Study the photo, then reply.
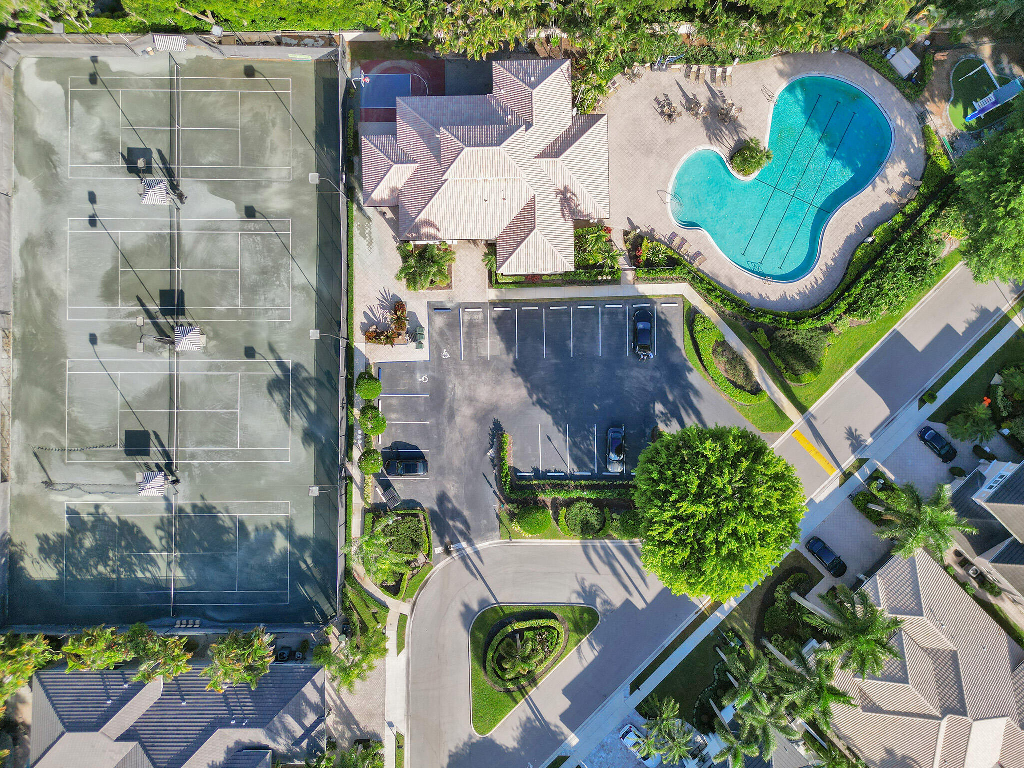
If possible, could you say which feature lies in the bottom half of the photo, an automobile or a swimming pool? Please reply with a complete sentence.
The one visible in the bottom half of the photo is an automobile.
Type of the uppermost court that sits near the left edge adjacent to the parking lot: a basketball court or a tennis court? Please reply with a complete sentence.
I'd identify the uppermost court that sits near the left edge adjacent to the parking lot as a tennis court.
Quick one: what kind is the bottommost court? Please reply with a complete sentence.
What you see as the bottommost court is a tennis court.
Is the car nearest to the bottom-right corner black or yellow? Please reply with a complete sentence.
The car nearest to the bottom-right corner looks black in the image.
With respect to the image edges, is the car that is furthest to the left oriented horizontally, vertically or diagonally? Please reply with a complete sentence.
The car that is furthest to the left runs horizontally in the image.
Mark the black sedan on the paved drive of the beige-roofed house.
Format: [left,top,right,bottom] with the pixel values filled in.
[803,535,846,575]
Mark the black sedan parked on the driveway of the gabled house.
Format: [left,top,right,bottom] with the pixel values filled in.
[913,424,956,462]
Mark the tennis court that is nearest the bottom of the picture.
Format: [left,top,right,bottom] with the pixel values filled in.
[9,482,341,628]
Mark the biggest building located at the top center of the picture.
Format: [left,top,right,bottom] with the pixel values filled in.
[360,58,610,273]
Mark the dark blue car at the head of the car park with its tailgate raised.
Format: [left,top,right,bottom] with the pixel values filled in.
[632,308,655,355]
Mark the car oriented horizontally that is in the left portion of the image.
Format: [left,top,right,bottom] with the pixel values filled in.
[384,458,428,480]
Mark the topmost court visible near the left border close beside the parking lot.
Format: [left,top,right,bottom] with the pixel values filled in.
[11,47,341,199]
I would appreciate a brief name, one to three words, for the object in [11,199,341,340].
tennis court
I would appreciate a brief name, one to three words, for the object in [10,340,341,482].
tennis court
